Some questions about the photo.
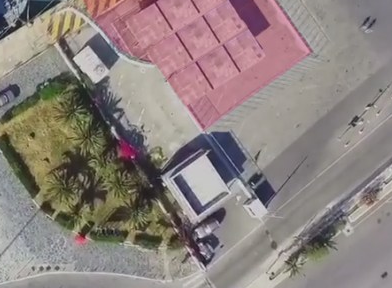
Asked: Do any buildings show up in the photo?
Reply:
Yes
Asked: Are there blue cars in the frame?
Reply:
No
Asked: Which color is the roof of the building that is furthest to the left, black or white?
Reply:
white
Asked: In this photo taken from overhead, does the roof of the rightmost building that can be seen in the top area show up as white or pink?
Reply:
pink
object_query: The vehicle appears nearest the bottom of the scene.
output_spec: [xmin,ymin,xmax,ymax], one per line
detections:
[194,238,217,261]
